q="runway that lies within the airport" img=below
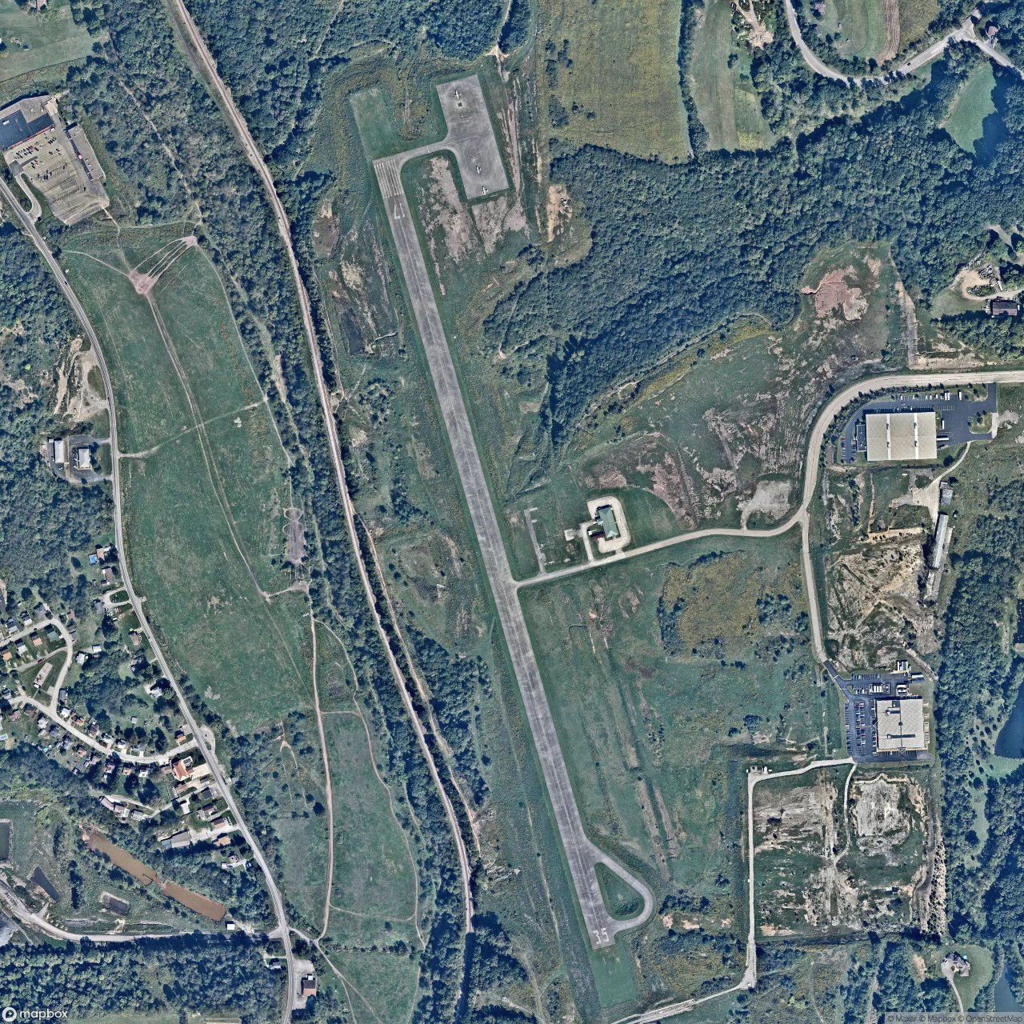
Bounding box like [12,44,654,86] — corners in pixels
[373,154,615,950]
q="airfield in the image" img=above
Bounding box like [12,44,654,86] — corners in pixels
[373,75,653,950]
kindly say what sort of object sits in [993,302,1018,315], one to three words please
building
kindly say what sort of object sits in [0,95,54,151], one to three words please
building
